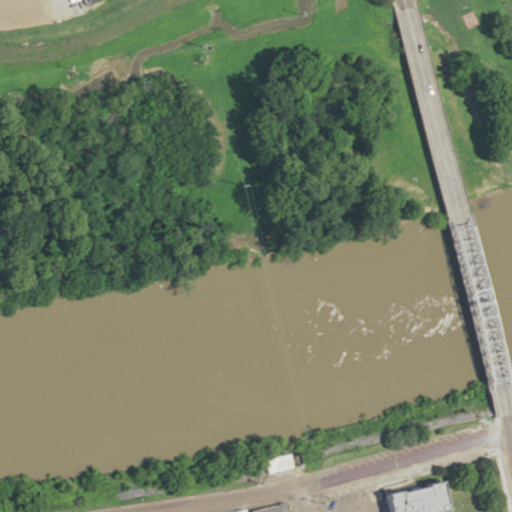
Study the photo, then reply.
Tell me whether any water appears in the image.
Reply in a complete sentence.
Yes, the picture does contain water.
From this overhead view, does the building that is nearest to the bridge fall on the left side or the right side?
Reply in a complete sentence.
The building that is nearest to the bridge appears in the right half of the scene.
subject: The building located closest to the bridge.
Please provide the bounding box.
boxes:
[386,480,456,512]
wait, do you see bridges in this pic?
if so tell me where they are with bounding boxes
[394,2,512,419]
